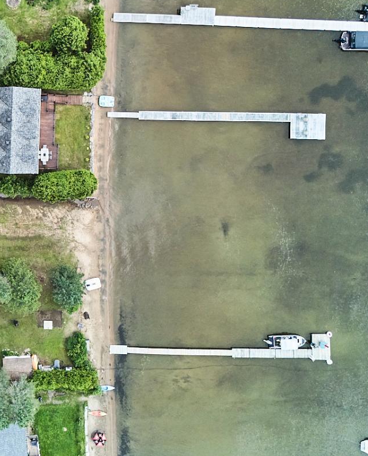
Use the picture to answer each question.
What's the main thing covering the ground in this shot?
water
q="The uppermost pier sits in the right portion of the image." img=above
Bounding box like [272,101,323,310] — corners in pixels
[113,4,368,31]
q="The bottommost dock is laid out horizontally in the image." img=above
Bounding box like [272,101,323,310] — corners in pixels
[109,331,333,364]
